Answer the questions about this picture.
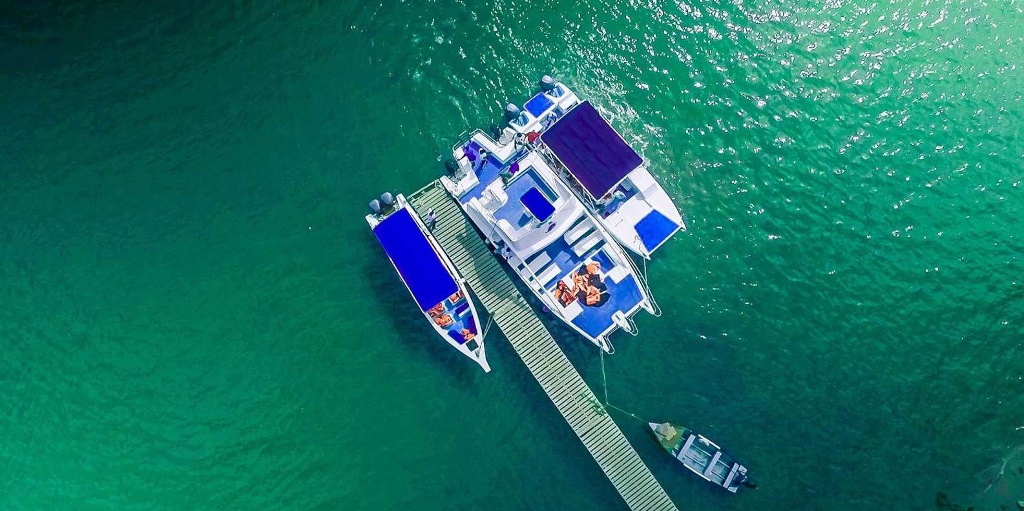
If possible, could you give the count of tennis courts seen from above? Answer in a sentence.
The picture shows no tennis courts.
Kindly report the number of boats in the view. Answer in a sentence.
I count 4 boats.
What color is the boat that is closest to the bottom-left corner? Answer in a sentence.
From above, the boat that is closest to the bottom-left corner appears blue.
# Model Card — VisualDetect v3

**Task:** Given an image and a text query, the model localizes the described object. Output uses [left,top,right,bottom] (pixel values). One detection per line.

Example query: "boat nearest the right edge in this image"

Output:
[649,422,752,492]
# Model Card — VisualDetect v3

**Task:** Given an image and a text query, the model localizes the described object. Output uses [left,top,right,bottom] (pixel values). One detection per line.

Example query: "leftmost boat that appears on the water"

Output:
[367,193,490,373]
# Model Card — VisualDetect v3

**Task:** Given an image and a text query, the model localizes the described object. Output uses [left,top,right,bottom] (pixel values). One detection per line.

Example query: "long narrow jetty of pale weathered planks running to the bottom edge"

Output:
[406,178,678,511]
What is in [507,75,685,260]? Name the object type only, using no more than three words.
boat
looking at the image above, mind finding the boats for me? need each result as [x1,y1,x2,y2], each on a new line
[507,75,685,260]
[367,193,490,373]
[441,126,662,357]
[649,422,752,492]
